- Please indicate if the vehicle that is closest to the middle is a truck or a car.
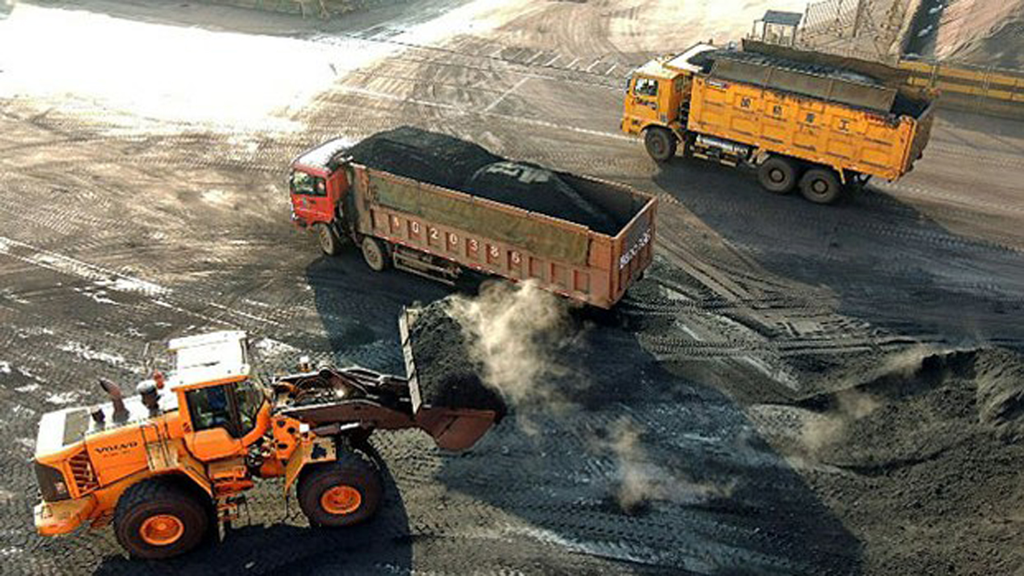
truck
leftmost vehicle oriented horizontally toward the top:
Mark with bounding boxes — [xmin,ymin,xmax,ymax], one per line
[281,127,660,332]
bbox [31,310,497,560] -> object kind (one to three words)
work vehicle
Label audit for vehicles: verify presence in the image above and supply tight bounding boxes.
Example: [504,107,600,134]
[620,35,943,203]
[281,127,660,332]
[31,310,497,560]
